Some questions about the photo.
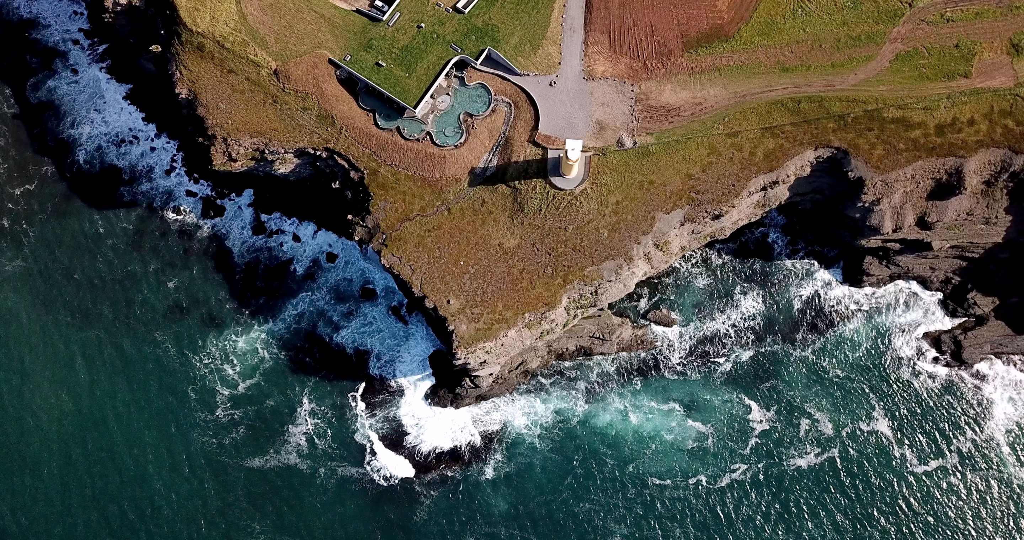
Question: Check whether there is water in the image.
Yes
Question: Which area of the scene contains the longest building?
top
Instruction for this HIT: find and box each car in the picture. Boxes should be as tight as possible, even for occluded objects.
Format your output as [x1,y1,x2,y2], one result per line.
[369,7,383,18]
[374,0,389,13]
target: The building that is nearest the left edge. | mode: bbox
[329,47,520,115]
